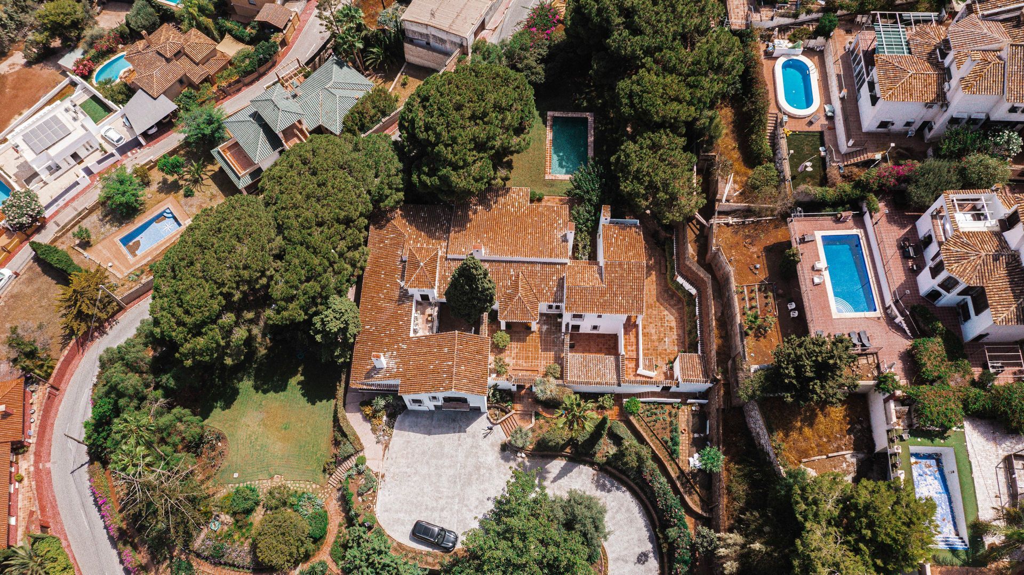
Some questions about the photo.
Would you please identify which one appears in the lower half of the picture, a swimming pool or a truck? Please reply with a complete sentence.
Looking in the lower half of the picture, you will find a swimming pool.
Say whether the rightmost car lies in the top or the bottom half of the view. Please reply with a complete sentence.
It is in the bottom half that the rightmost car appears.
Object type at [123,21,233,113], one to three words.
house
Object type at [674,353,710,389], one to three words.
shed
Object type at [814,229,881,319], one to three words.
swimming pool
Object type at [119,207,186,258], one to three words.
swimming pool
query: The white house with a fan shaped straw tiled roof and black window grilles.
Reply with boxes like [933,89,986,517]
[918,189,1024,335]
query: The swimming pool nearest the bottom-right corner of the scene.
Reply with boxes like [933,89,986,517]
[909,446,968,548]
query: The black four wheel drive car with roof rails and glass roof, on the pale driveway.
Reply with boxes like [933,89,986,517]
[409,519,459,556]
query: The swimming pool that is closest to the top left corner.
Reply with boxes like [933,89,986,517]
[95,54,131,81]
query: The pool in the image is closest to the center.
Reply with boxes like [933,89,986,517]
[545,111,594,179]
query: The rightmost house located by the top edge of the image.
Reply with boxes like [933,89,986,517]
[850,0,1024,131]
